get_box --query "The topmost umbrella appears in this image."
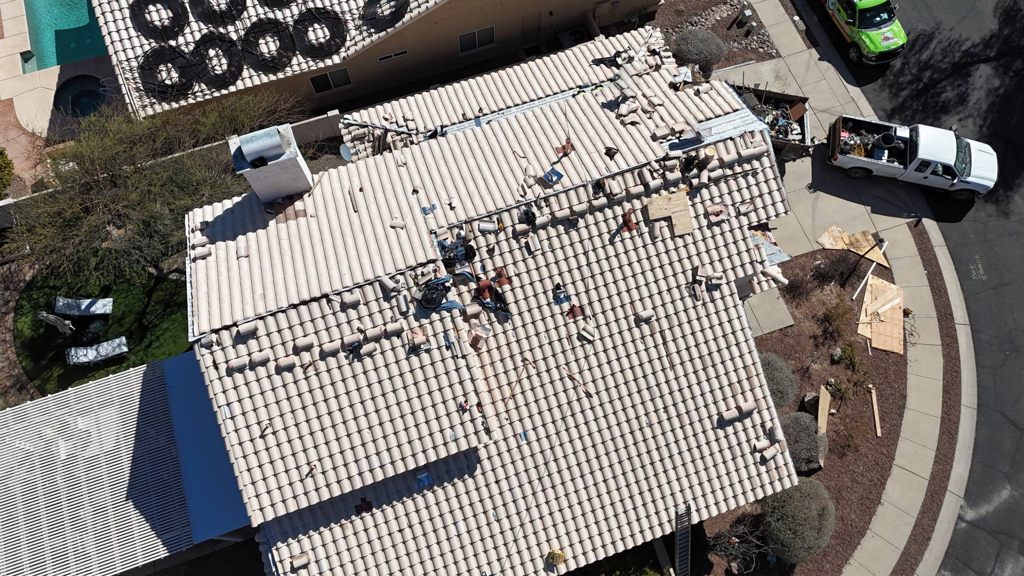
[39,313,100,346]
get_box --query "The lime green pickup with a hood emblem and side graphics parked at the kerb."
[818,0,917,71]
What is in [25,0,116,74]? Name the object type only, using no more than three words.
swimming pool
